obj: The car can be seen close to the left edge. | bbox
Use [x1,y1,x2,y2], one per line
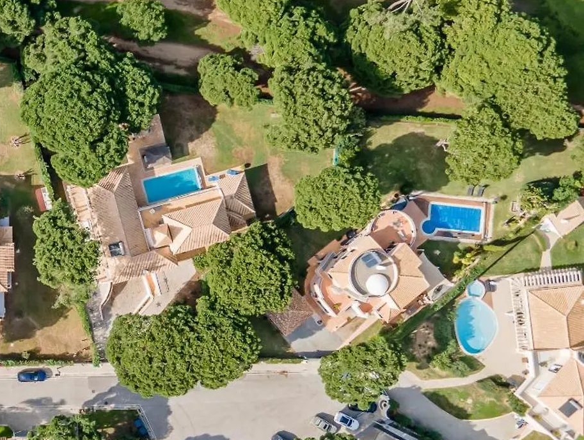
[18,368,48,384]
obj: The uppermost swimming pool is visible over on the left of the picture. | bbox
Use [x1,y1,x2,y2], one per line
[140,164,205,206]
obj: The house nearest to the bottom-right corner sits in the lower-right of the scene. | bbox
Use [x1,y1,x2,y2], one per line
[451,267,584,440]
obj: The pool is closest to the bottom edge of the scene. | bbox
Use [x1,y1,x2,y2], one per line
[454,295,500,356]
